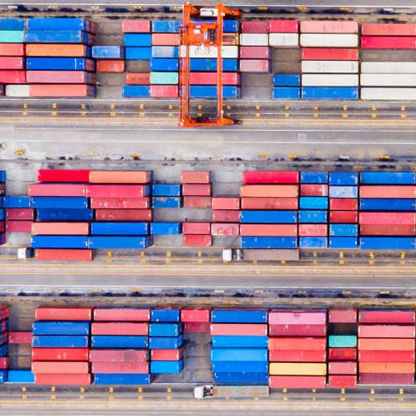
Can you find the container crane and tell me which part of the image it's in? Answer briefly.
top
